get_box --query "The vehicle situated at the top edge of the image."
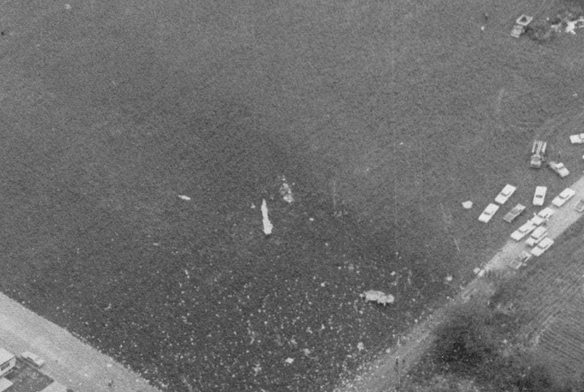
[512,14,531,36]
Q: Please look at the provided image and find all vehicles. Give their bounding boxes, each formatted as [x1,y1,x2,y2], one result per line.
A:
[512,14,531,36]
[551,189,576,207]
[532,140,546,169]
[548,157,571,177]
[533,187,546,207]
[477,203,501,223]
[530,237,555,257]
[18,350,47,369]
[531,208,556,227]
[502,203,526,223]
[570,134,584,144]
[524,225,549,246]
[495,185,516,204]
[511,222,536,242]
